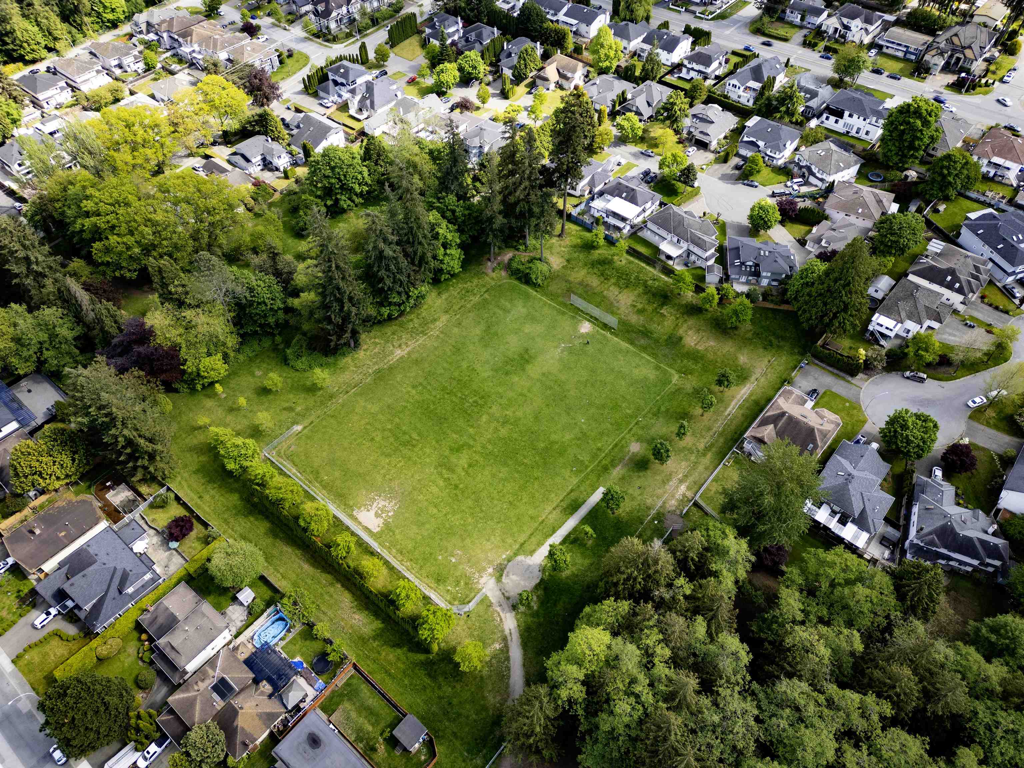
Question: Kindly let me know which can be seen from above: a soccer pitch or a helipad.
soccer pitch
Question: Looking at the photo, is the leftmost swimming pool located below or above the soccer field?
below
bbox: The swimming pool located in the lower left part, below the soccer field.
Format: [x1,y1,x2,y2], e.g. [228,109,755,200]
[252,610,290,648]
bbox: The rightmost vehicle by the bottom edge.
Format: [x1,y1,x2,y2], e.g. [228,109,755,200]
[137,734,173,768]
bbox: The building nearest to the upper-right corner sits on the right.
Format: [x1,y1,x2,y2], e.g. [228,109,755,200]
[971,2,1008,28]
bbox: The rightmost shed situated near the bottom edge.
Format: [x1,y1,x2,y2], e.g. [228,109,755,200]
[392,714,427,753]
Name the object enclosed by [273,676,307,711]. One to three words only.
gazebo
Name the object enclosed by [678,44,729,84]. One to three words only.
house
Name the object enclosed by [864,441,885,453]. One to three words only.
vehicle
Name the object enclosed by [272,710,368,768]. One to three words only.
house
